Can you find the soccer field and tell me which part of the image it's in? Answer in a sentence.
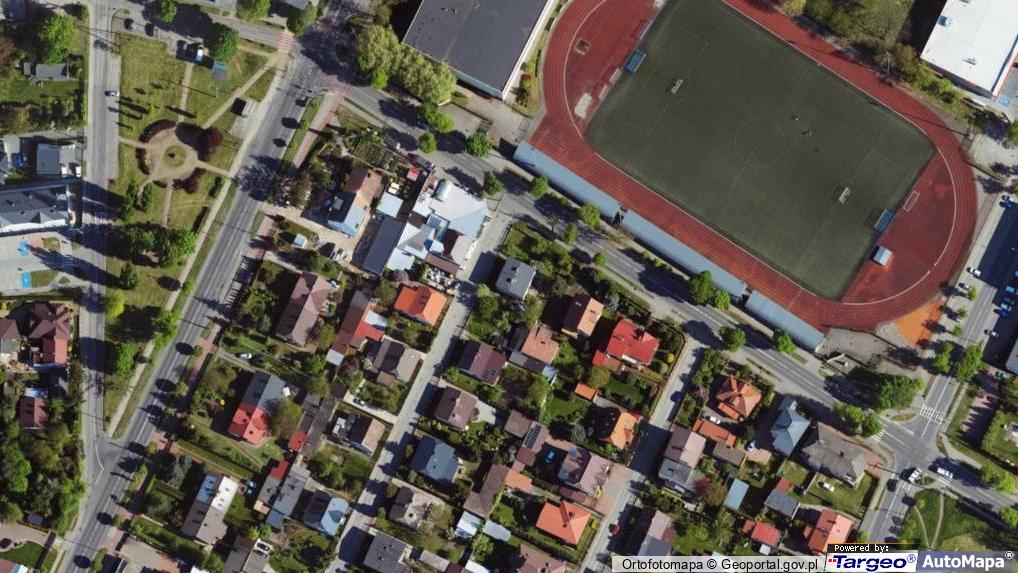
The soccer field is located in the top right region of the scene.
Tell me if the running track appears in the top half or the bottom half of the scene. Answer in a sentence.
Seen from above, the running track lies in the top half of the view.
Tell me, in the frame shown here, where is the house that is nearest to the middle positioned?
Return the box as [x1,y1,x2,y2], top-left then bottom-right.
[496,259,537,302]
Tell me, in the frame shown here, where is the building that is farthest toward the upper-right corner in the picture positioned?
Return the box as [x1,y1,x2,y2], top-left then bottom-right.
[922,0,1018,101]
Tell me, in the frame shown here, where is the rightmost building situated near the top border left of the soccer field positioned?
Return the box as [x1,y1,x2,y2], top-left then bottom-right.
[404,0,556,99]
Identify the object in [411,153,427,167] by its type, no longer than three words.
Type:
vehicle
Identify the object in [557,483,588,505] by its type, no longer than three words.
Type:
building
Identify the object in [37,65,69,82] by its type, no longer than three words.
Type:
shed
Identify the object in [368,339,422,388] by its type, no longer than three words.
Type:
house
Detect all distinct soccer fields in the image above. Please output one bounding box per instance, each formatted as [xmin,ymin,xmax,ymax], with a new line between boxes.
[584,0,935,300]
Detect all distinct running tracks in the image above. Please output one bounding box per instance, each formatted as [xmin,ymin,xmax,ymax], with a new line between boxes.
[518,0,976,332]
